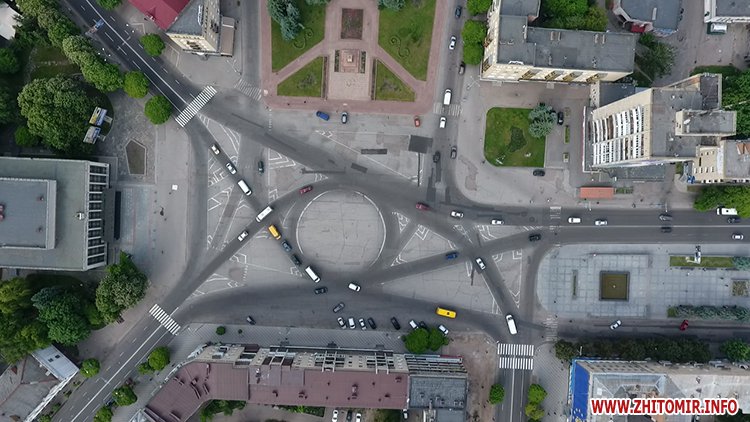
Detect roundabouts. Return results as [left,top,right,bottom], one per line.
[285,176,397,288]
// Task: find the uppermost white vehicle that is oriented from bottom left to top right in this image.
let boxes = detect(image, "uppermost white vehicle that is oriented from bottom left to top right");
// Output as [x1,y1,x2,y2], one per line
[257,207,272,220]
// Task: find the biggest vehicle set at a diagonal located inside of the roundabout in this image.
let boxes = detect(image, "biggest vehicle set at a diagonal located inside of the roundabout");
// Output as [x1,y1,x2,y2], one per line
[305,265,319,281]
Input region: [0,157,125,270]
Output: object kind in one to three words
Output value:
building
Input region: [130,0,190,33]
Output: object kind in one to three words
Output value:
house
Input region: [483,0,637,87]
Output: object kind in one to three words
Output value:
building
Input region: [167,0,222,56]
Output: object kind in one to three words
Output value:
house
